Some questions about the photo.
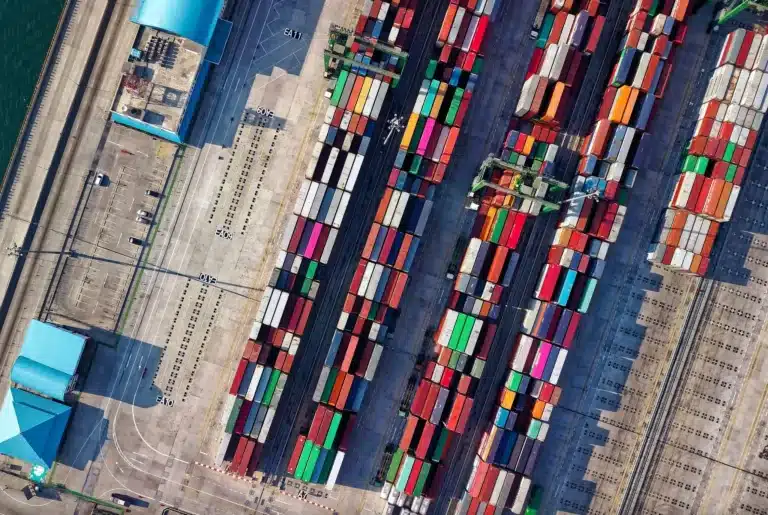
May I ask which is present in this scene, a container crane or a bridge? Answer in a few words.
container crane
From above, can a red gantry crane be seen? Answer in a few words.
No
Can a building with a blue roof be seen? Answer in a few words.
Yes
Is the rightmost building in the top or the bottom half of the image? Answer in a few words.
top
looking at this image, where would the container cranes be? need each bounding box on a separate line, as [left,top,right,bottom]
[322,25,412,97]
[708,0,768,28]
[465,153,568,214]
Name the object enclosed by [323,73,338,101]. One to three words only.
vehicle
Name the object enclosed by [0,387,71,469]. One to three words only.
building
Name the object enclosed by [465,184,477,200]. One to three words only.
vehicle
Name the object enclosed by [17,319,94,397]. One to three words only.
building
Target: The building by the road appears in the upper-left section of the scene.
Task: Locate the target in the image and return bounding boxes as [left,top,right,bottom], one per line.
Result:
[109,0,243,142]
